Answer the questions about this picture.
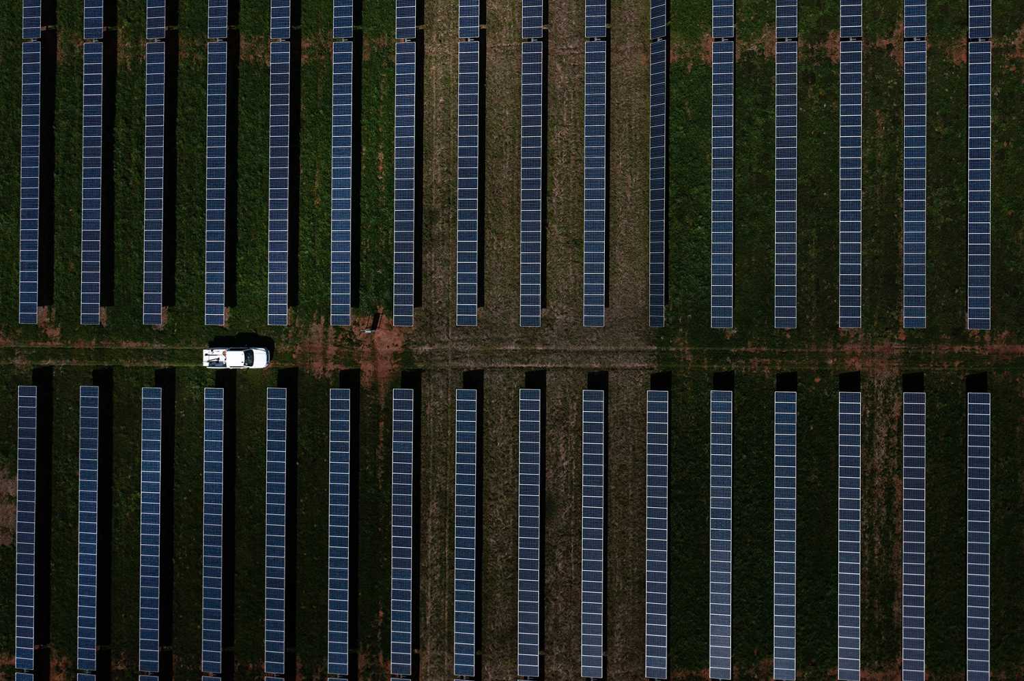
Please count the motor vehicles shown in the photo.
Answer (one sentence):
The picture shows 1 motor vehicle.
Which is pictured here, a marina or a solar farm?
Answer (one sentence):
It's a solar farm.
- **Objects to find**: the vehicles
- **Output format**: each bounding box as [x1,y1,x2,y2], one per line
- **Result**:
[203,346,270,370]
